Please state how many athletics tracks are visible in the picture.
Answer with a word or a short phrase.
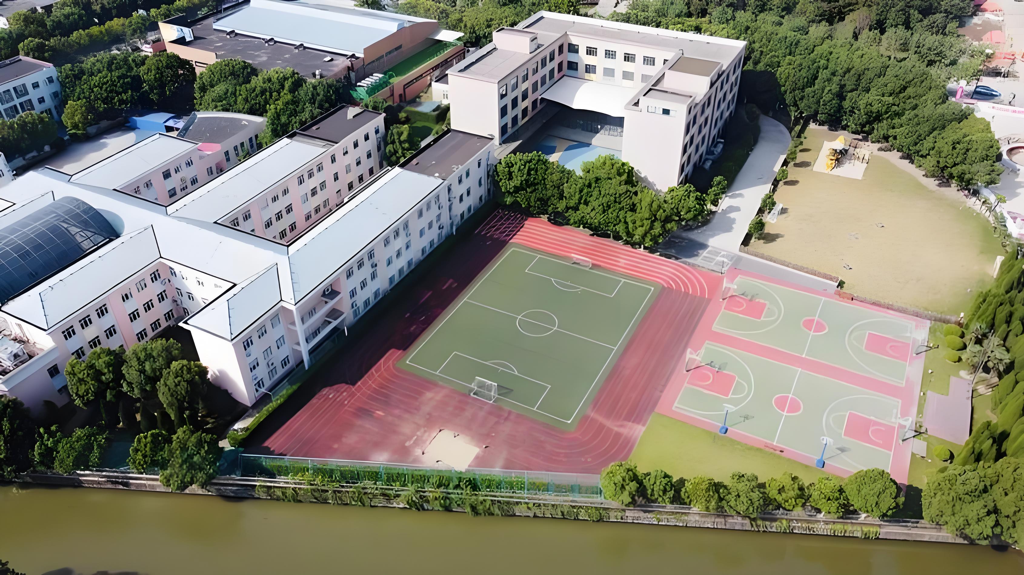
1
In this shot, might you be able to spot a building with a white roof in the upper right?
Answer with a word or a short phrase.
Yes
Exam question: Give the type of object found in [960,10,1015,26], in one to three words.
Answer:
building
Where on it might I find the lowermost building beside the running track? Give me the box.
[0,101,495,423]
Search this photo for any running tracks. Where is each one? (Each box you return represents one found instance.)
[233,207,728,490]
